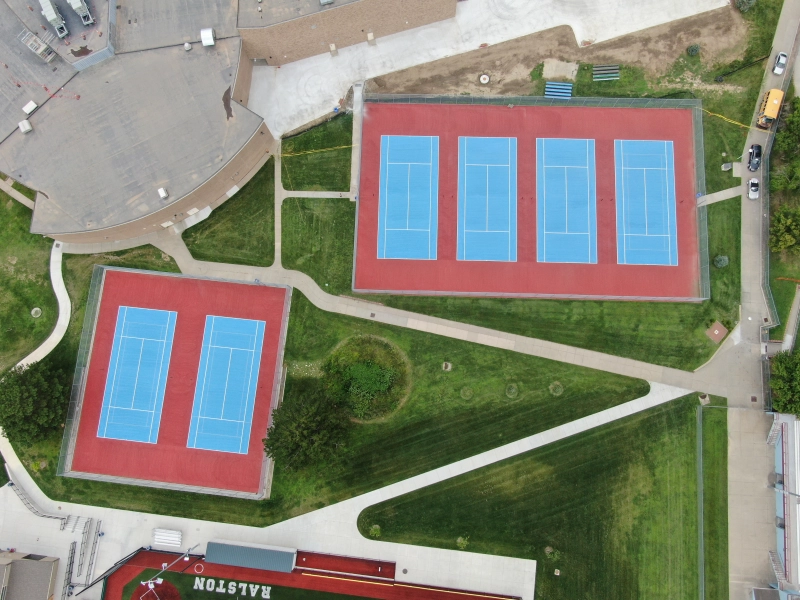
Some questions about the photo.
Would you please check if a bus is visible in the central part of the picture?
No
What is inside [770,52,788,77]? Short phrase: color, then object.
white car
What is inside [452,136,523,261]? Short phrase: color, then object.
blue tennis court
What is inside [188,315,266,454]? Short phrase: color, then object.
blue tennis court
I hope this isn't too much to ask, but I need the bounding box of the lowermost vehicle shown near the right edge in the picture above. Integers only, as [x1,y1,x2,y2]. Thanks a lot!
[745,177,760,201]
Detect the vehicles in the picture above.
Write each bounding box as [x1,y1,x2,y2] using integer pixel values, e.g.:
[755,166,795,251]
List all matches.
[745,177,760,201]
[745,145,762,172]
[757,88,784,130]
[770,52,788,77]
